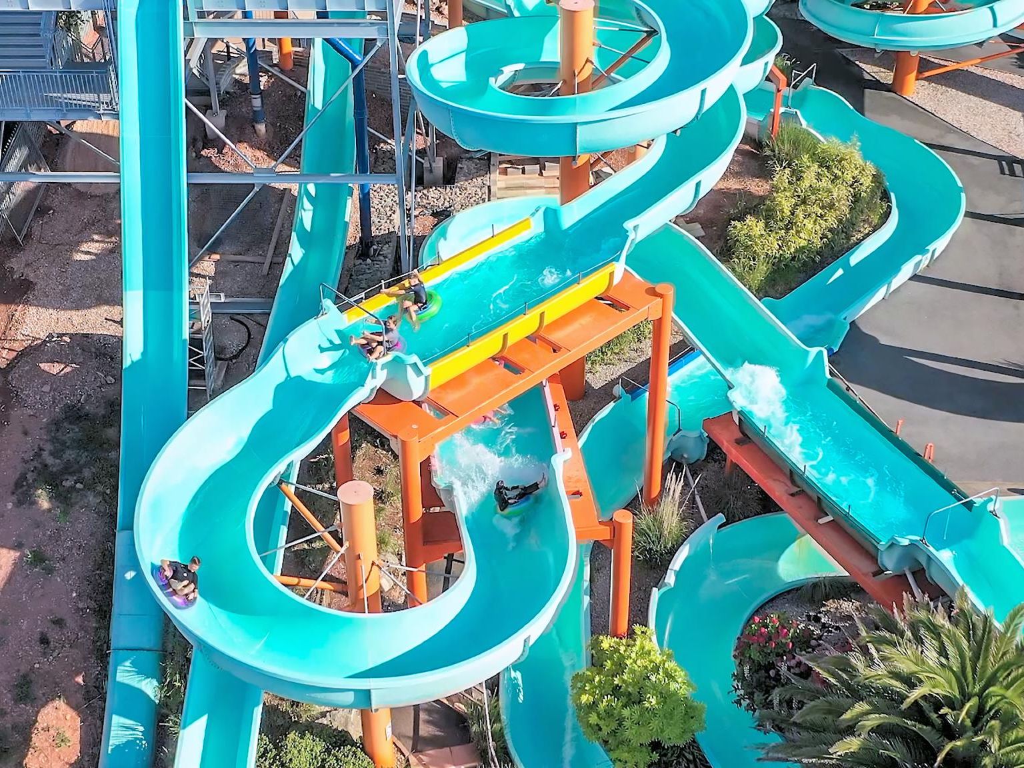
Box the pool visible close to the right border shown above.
[735,378,981,565]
